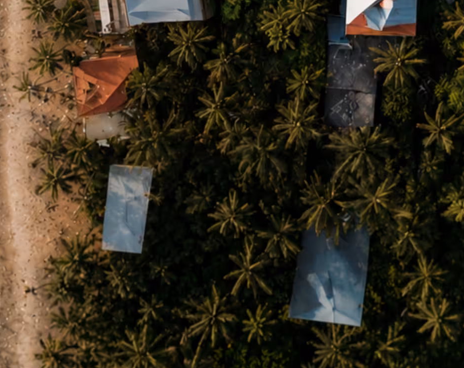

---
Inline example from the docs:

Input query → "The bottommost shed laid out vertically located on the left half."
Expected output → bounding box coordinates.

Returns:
[103,161,154,253]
